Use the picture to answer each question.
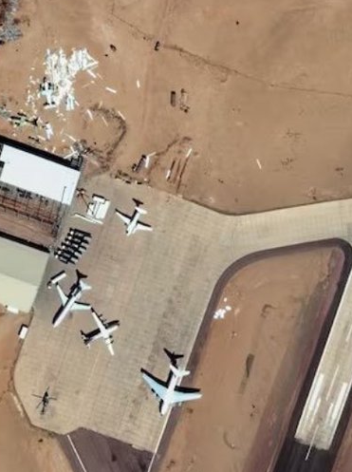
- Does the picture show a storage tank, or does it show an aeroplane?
aeroplane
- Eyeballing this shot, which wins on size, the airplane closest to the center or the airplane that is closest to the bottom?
the airplane that is closest to the bottom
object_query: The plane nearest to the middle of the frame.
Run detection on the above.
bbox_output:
[115,206,153,235]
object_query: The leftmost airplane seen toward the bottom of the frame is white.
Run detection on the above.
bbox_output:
[53,281,91,327]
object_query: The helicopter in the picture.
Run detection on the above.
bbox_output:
[33,389,57,415]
